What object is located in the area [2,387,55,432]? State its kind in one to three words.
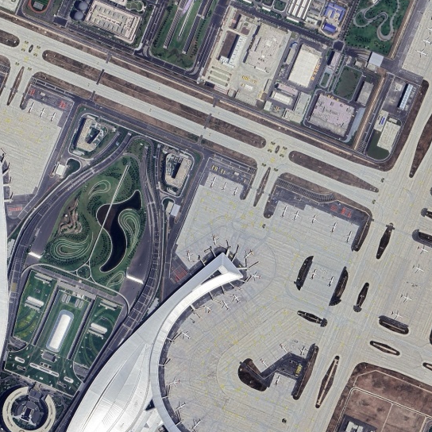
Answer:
building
